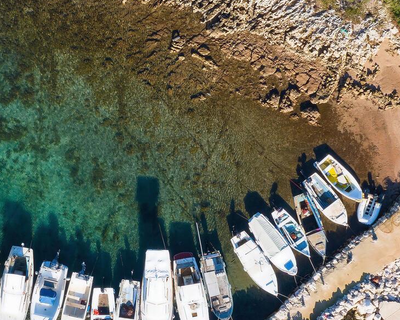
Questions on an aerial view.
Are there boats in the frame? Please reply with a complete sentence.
Yes, the picture does show a boat.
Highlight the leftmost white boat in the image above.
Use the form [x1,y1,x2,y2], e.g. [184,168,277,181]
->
[0,232,34,320]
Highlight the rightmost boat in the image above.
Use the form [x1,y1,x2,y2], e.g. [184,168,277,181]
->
[357,190,383,225]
